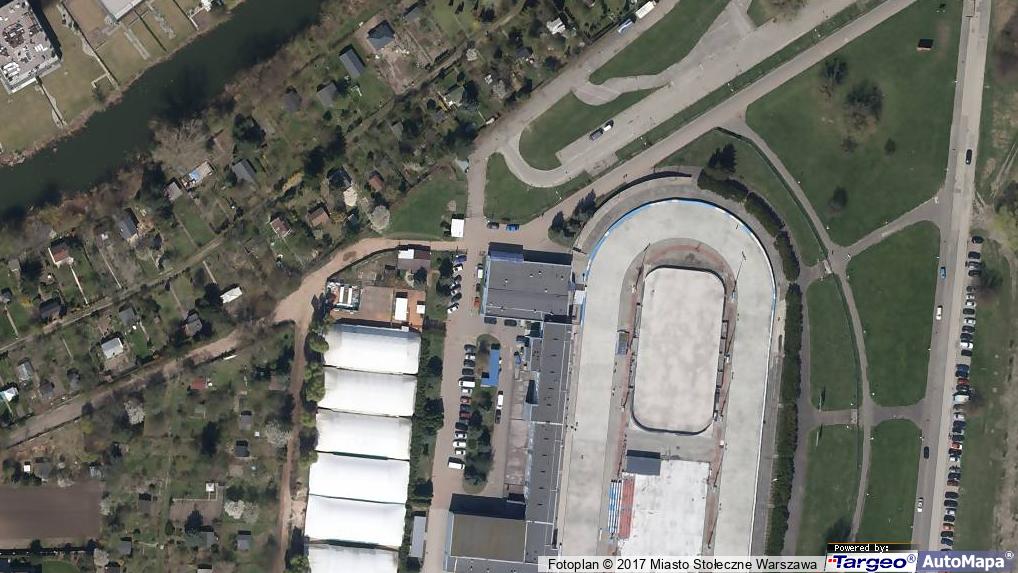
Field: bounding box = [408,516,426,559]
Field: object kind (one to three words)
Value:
shed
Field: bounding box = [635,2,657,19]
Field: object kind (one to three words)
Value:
vehicle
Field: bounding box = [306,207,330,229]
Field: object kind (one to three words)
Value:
house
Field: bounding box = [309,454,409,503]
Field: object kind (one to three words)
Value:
building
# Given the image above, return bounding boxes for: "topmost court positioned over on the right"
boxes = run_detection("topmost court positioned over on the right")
[632,265,728,435]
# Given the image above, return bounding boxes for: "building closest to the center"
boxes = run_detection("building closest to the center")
[482,252,572,324]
